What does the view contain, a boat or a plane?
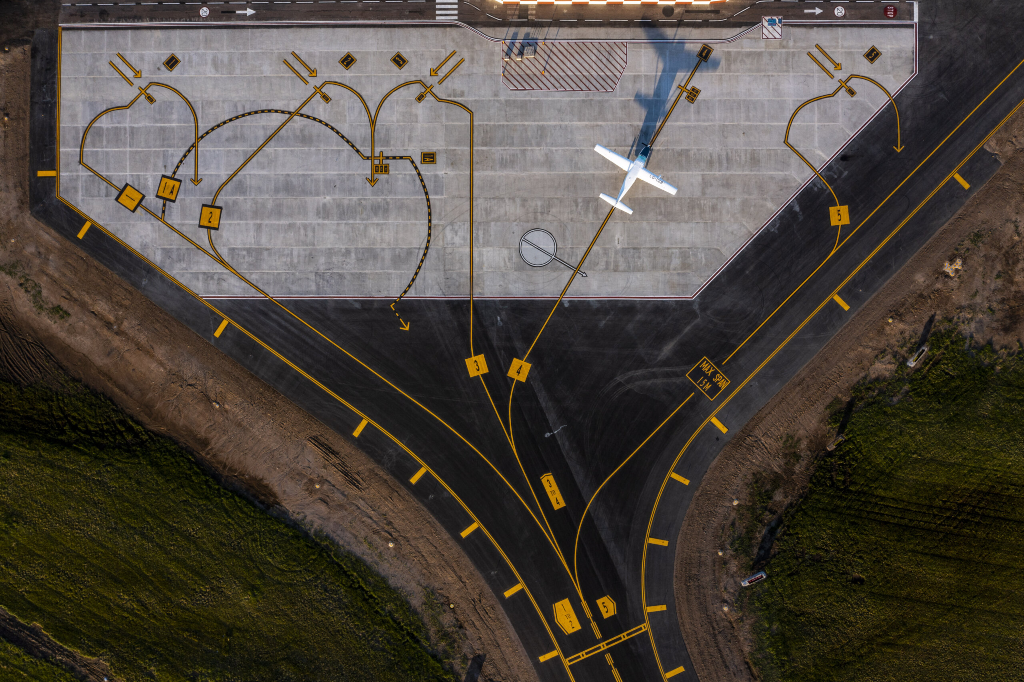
plane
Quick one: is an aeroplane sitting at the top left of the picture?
No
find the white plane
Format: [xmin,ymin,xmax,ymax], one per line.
[594,143,678,214]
